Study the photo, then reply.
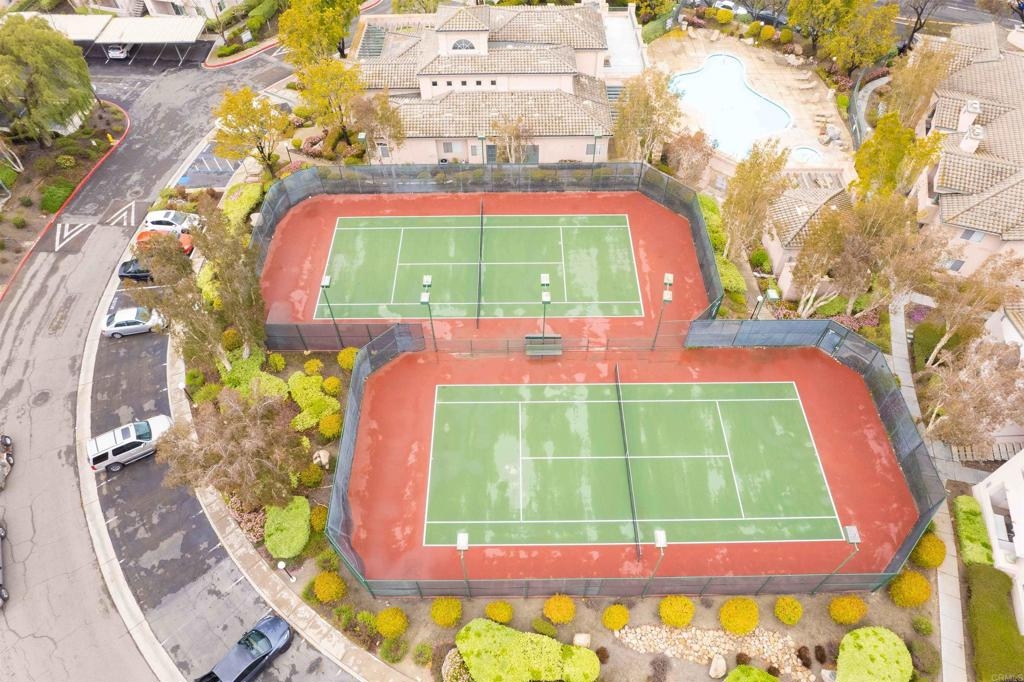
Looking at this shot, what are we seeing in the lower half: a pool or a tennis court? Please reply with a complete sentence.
You can see a tennis court in the lower half.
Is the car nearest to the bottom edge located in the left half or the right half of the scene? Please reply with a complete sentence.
The car nearest to the bottom edge sits on the left side.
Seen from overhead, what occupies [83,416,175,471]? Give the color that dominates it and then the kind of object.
white car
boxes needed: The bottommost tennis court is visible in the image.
[338,346,919,582]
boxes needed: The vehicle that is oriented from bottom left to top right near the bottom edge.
[197,612,292,682]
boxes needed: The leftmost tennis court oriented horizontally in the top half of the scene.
[262,191,710,349]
